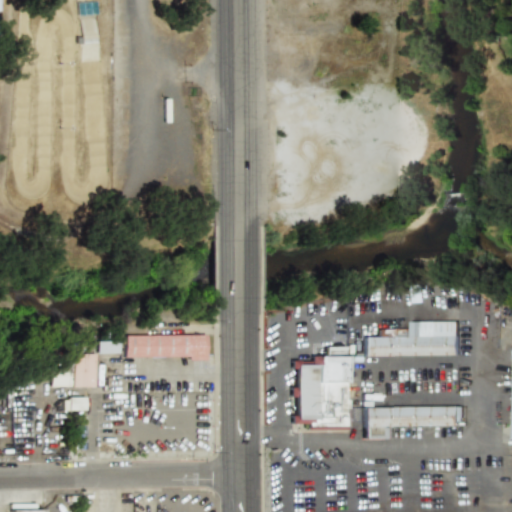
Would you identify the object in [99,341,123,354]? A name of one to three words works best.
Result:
shed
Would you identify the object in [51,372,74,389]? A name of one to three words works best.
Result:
building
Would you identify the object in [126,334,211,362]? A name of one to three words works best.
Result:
building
